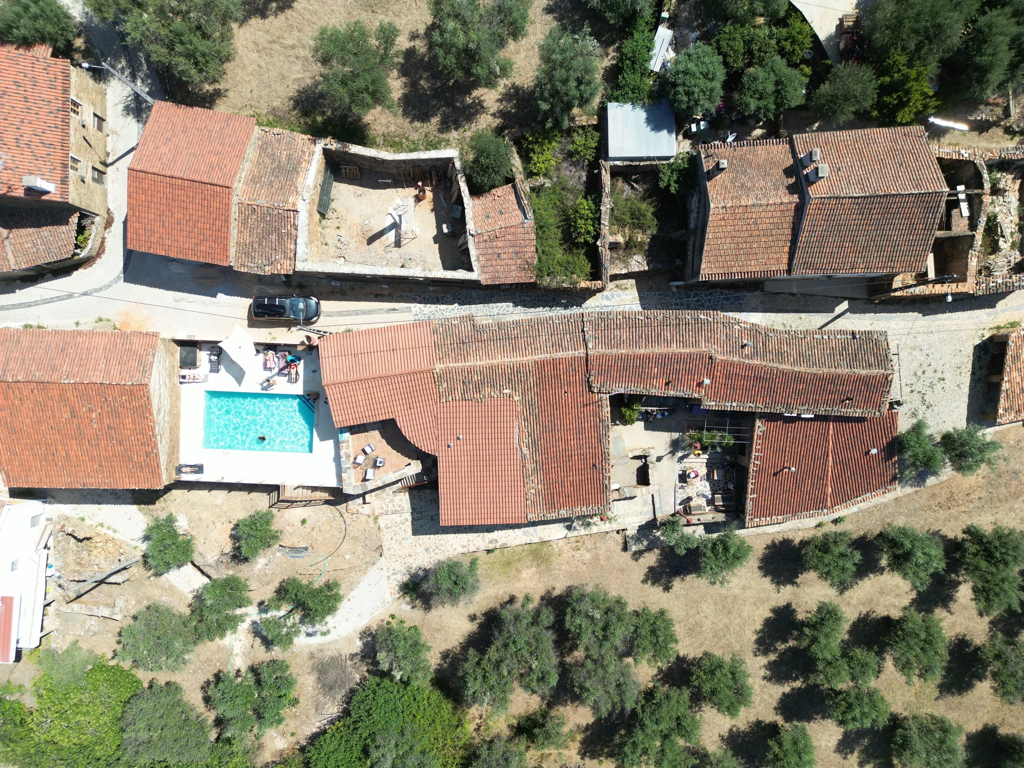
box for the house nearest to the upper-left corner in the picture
[0,40,108,212]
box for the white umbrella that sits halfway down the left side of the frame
[217,324,260,374]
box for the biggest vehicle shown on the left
[247,291,323,325]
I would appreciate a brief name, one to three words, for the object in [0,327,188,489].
building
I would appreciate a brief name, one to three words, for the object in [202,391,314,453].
swimming pool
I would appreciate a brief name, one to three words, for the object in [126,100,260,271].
house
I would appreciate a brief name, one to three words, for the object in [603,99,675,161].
shed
